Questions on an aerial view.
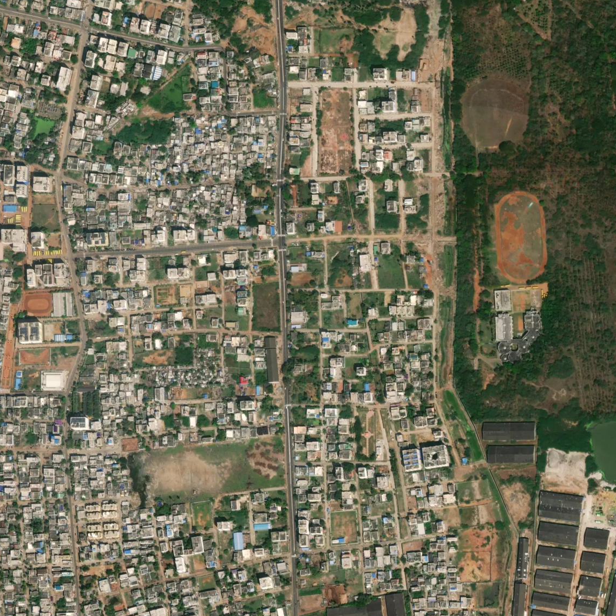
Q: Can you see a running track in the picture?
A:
Yes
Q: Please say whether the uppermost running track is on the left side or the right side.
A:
right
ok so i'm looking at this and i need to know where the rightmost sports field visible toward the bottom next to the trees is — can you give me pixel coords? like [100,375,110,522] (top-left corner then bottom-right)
[333,511,358,543]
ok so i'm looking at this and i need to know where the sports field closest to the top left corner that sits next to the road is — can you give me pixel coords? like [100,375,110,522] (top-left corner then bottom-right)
[34,205,60,231]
